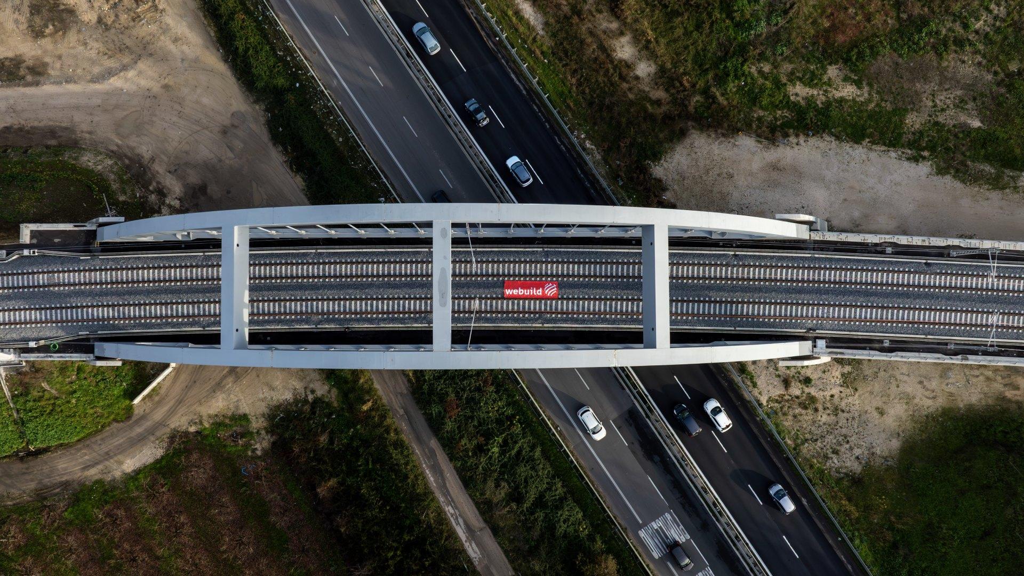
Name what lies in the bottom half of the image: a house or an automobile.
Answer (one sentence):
What appears in the bottom half of the image is an automobile.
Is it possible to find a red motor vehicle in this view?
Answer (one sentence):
No, the photo shows no red motor vehicle.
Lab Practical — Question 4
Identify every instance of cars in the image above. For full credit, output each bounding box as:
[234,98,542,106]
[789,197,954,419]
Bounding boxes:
[464,99,489,128]
[576,404,606,440]
[672,403,702,438]
[767,481,797,516]
[506,156,533,188]
[666,539,692,571]
[430,187,453,204]
[413,23,441,56]
[702,397,732,433]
